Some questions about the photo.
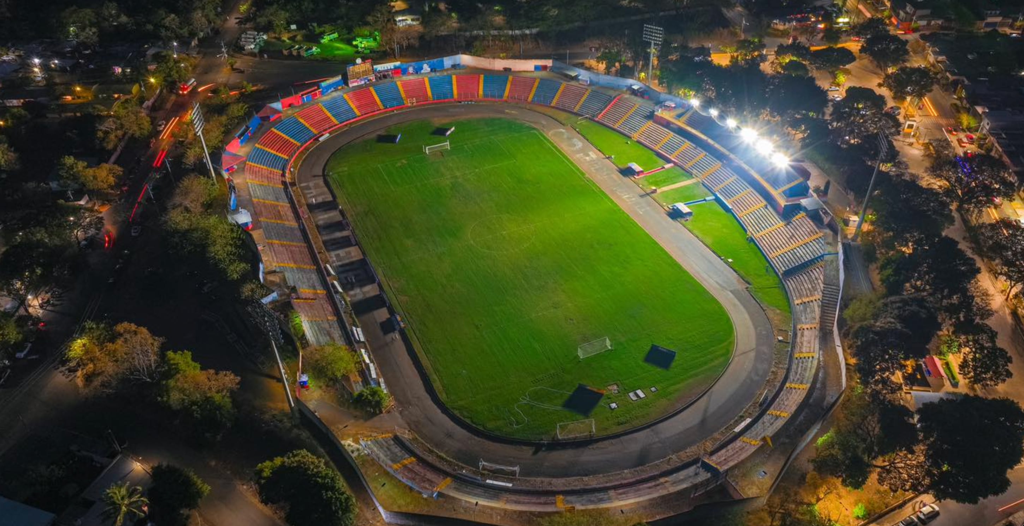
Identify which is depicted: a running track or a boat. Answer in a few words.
running track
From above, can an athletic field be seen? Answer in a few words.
Yes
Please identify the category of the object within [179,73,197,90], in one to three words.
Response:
vehicle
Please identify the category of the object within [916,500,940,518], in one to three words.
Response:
car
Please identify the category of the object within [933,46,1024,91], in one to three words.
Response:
building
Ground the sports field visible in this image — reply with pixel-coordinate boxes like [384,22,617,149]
[324,114,733,440]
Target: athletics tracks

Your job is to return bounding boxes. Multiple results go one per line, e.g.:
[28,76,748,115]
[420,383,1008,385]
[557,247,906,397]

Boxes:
[296,102,774,475]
